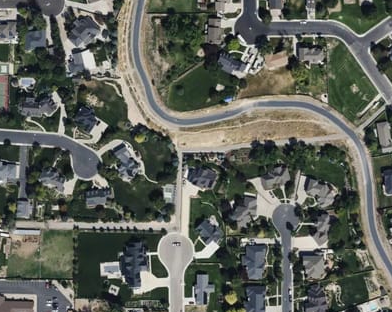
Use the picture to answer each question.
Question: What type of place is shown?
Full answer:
This image shows a residential area.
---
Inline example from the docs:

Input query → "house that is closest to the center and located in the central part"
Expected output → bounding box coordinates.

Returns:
[187,163,219,190]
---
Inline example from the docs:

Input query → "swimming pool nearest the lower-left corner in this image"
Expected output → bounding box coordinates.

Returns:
[100,262,121,278]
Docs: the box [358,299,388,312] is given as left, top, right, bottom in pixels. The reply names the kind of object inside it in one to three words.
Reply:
swimming pool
